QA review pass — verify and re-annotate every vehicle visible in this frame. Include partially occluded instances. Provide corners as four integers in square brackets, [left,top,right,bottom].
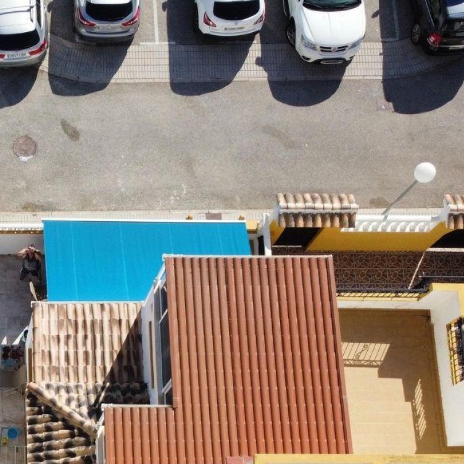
[0,0,50,69]
[193,0,264,39]
[405,0,464,60]
[73,0,139,45]
[288,0,373,65]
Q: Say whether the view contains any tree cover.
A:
No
